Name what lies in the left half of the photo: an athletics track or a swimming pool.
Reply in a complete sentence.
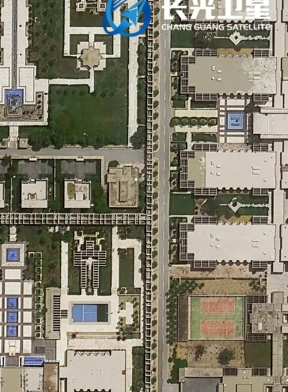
Visible in the left half of the photo is a swimming pool.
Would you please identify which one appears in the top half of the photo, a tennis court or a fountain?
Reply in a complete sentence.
The feature located in the top half of the photo is a fountain.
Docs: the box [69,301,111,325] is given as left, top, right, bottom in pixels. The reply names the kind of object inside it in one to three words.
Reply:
swimming pool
